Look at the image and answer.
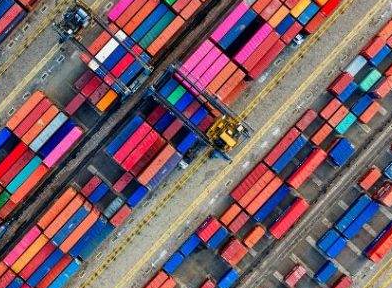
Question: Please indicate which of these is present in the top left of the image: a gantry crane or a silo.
gantry crane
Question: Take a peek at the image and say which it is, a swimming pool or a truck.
truck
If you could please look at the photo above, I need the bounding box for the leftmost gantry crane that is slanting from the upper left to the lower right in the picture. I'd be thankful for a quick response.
[54,0,154,93]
